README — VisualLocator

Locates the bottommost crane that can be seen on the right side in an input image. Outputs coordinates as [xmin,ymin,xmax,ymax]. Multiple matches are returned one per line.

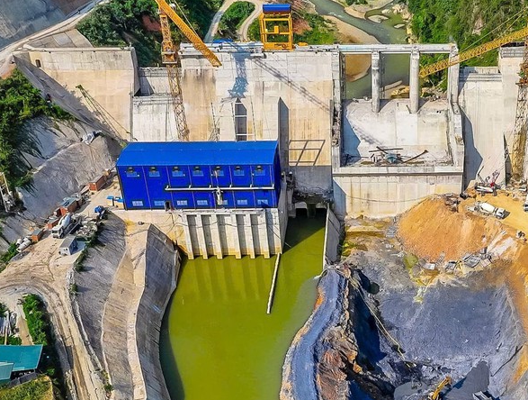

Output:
[472,101,528,194]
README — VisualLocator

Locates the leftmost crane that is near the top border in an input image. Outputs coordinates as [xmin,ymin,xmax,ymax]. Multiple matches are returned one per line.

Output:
[158,0,222,141]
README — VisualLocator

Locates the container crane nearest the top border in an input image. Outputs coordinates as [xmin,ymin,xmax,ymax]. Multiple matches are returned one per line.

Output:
[260,0,296,45]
